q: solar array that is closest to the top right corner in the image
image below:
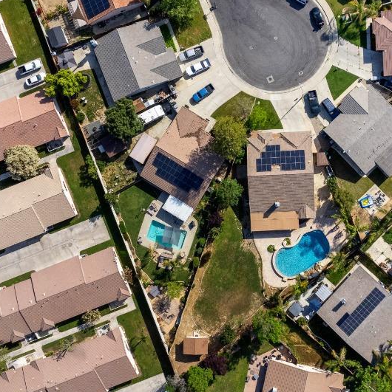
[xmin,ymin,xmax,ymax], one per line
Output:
[257,144,305,171]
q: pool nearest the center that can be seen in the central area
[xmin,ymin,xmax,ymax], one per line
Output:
[146,218,188,251]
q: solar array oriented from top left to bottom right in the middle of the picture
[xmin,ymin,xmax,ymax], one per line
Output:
[153,153,202,191]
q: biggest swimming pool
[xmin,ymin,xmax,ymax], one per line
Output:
[272,227,330,280]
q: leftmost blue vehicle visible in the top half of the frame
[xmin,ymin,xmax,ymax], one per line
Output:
[190,81,215,103]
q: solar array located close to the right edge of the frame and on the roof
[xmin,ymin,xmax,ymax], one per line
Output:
[337,288,384,336]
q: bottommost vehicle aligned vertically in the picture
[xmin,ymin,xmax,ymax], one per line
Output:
[305,88,321,116]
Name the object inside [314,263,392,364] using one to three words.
house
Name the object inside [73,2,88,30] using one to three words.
gazebo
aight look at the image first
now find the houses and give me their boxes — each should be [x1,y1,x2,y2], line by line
[0,315,139,392]
[93,23,183,101]
[314,263,392,364]
[0,248,136,350]
[263,358,347,392]
[324,82,392,179]
[247,132,315,231]
[79,0,146,24]
[0,92,76,174]
[0,158,78,249]
[373,10,392,77]
[130,105,225,221]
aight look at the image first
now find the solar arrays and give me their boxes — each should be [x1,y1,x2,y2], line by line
[82,0,109,18]
[153,153,202,191]
[257,144,305,171]
[337,288,384,336]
